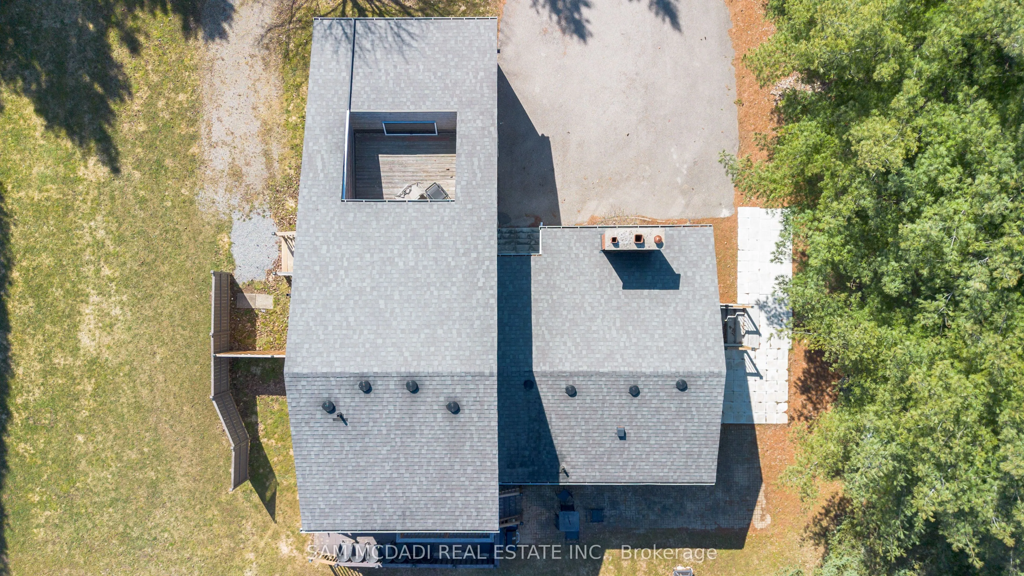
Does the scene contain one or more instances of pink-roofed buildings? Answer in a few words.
No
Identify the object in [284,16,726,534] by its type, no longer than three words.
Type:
house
